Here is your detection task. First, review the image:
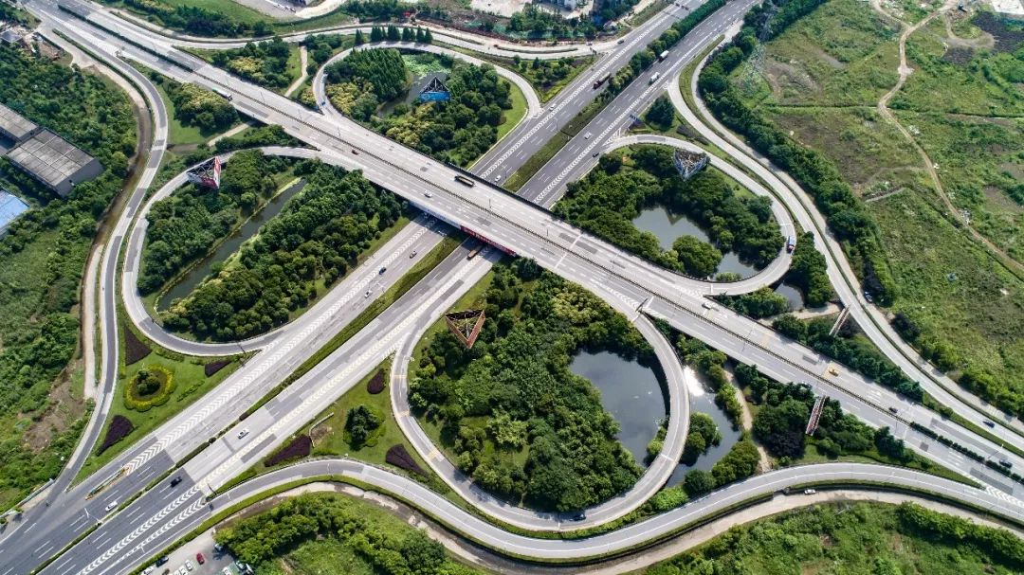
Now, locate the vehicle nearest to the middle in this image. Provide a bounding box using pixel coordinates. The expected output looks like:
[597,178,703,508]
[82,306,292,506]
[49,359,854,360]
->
[468,244,482,258]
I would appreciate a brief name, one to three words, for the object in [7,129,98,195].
shed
